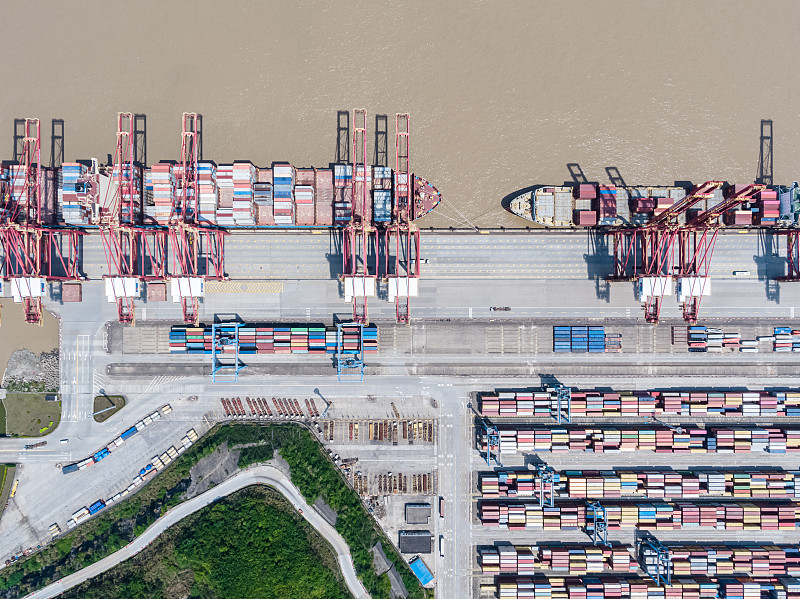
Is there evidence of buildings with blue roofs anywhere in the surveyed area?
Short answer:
Yes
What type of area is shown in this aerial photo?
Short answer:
port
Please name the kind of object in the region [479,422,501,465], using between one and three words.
container crane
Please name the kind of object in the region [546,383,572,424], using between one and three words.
container crane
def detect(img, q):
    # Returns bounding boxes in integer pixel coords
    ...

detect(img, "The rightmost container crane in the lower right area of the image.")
[640,535,672,587]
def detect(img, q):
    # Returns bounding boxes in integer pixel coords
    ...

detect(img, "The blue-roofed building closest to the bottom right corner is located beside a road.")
[409,555,434,587]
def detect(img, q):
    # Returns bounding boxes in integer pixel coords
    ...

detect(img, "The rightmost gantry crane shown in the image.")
[767,226,800,281]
